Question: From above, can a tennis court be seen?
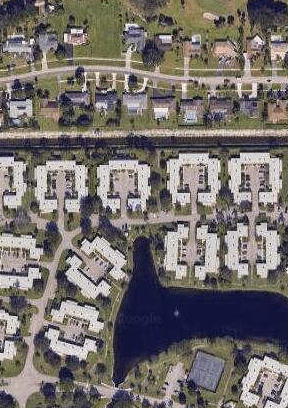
Yes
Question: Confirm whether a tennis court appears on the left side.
No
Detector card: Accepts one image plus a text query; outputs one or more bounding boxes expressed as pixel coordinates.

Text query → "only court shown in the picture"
[186,351,226,391]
